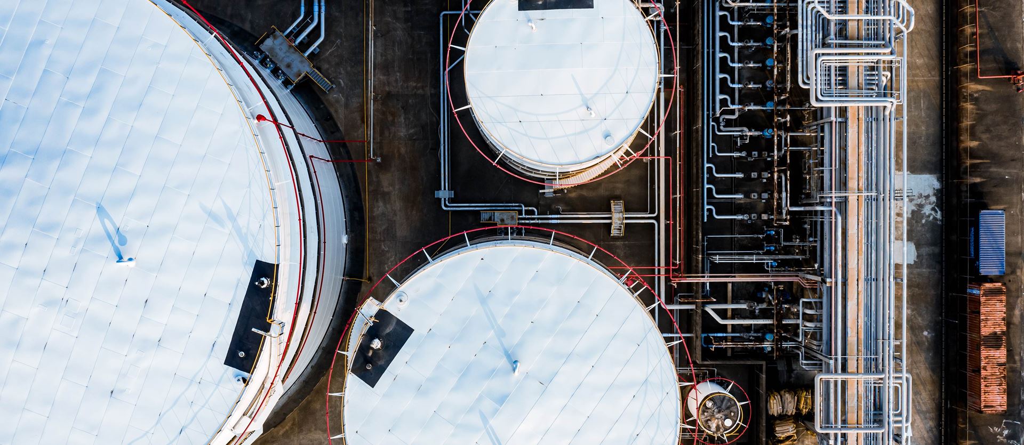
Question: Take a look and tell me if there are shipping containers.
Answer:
Yes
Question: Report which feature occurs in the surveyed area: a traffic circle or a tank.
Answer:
tank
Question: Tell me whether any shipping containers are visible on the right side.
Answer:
Yes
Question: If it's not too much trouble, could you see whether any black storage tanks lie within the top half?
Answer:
No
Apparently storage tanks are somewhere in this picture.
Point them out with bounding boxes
[0,0,370,445]
[325,226,697,445]
[447,0,677,199]
[682,376,752,445]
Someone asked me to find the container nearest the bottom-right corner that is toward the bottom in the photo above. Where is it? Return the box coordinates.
[968,281,1007,413]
